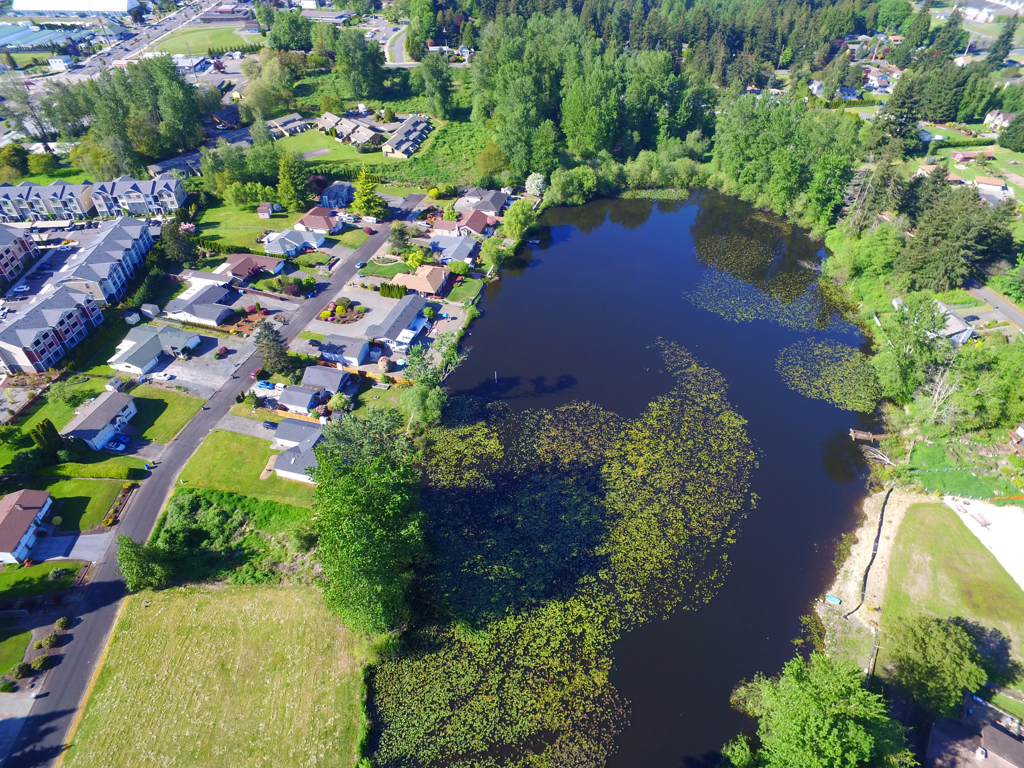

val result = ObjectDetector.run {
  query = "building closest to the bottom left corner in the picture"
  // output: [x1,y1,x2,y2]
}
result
[0,487,60,563]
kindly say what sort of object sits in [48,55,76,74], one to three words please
building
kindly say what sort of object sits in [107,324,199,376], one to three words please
building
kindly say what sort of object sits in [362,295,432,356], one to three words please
house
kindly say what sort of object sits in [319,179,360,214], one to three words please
house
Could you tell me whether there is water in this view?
Yes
